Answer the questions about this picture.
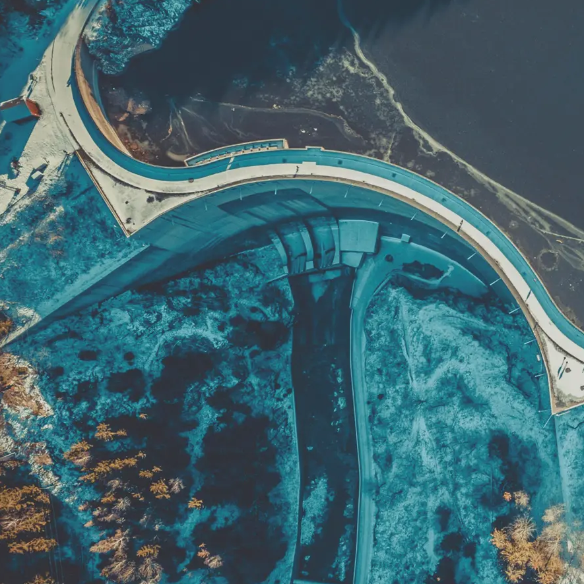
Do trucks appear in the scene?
No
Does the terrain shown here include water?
Yes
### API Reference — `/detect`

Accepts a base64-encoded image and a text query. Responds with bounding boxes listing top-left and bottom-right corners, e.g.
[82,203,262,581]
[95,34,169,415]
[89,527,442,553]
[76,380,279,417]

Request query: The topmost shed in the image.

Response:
[0,98,42,123]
